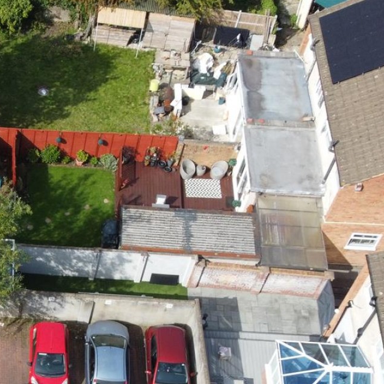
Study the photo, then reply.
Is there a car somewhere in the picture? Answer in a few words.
Yes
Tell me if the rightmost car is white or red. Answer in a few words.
red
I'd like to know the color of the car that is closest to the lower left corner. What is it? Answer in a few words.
red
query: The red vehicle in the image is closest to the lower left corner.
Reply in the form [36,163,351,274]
[24,316,74,384]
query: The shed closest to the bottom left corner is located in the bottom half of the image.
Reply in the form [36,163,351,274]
[117,204,259,266]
